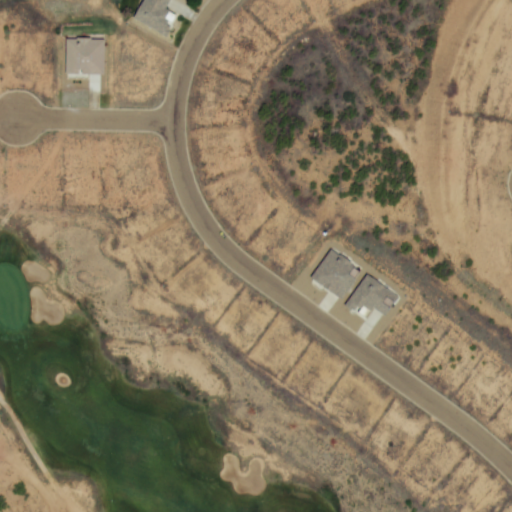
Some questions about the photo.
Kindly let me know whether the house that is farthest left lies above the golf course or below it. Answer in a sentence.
Looking at the scene, the house that is farthest left is located above the golf course.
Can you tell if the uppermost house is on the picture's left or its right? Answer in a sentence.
The uppermost house appears in the left half of the scene.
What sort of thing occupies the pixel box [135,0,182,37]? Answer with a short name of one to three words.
house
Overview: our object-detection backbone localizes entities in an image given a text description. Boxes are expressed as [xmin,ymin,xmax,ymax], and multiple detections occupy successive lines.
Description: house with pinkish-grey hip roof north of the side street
[66,36,104,78]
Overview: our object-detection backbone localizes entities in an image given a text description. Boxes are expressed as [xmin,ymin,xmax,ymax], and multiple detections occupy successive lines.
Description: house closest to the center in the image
[310,248,361,298]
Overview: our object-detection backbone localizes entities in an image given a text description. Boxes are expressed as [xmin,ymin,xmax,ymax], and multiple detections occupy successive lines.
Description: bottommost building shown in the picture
[346,274,398,320]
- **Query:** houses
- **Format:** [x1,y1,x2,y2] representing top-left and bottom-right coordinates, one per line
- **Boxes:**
[135,0,182,37]
[346,274,398,320]
[310,248,361,298]
[66,36,104,78]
